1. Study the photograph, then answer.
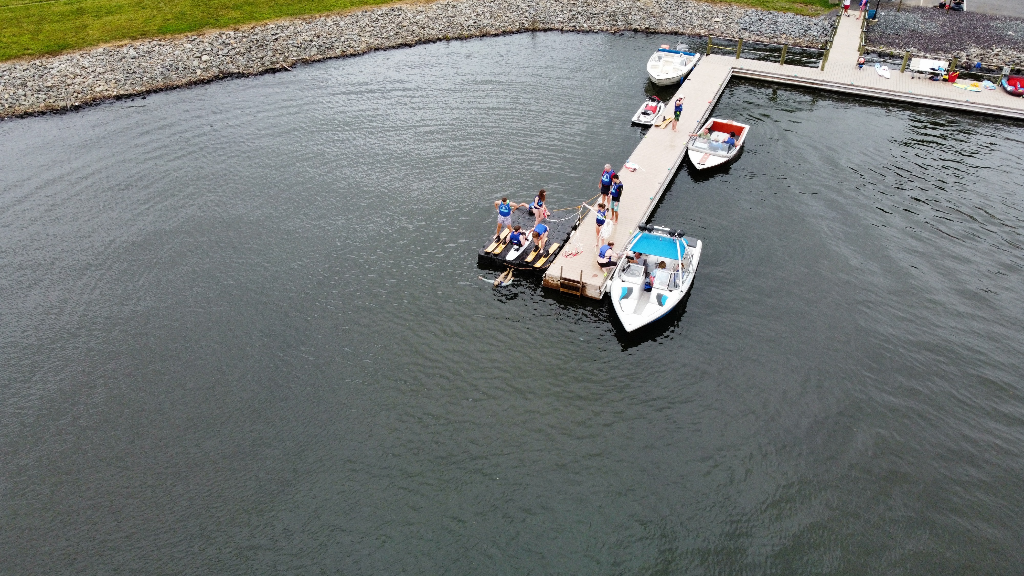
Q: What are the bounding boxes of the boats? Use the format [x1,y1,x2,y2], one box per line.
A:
[631,95,667,129]
[645,36,699,86]
[688,119,751,172]
[611,221,702,338]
